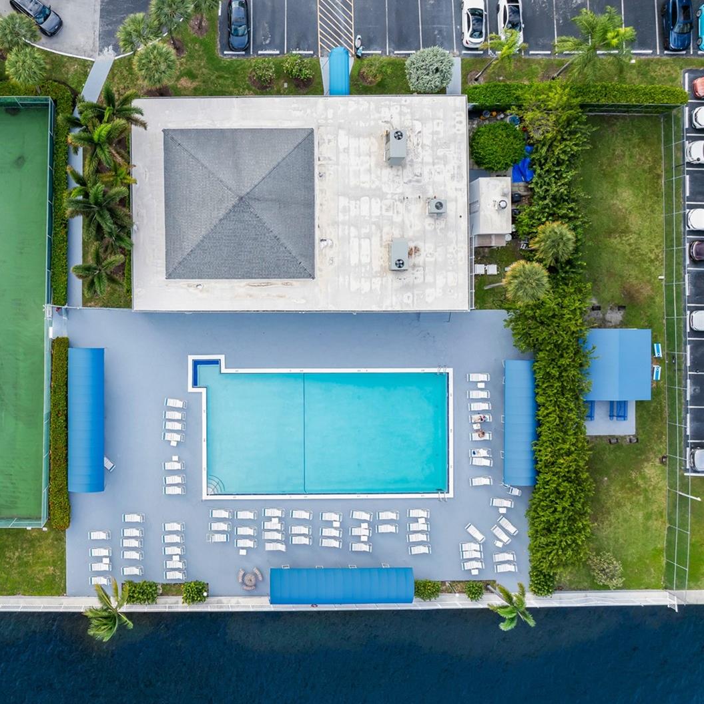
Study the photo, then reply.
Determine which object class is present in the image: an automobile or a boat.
automobile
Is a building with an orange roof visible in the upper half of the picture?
No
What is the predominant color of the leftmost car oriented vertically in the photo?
blue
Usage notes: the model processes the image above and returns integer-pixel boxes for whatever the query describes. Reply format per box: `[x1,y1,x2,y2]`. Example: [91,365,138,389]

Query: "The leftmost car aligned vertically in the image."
[225,0,251,53]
